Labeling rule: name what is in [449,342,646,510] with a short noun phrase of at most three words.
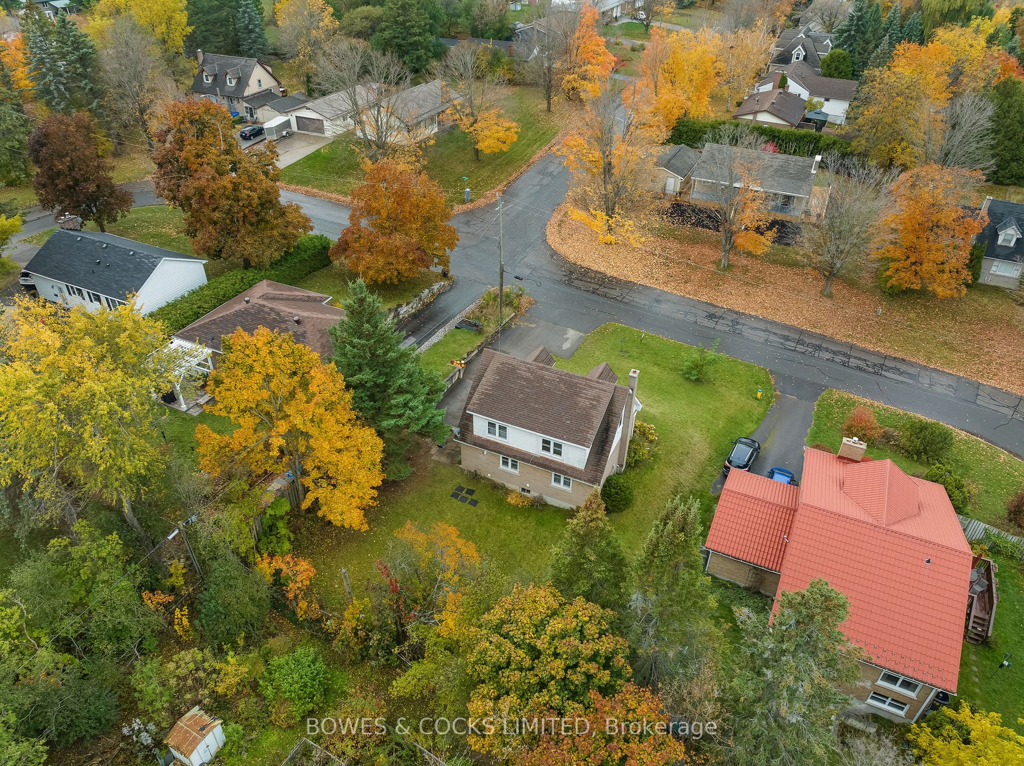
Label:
house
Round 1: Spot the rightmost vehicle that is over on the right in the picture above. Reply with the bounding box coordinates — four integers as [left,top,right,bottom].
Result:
[766,462,799,481]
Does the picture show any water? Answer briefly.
No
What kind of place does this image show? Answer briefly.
residential area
